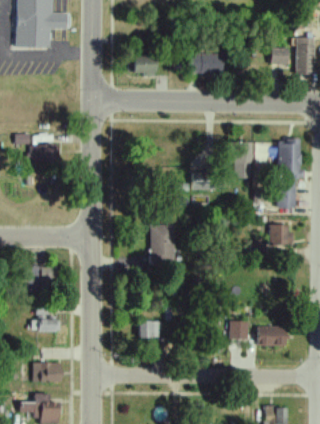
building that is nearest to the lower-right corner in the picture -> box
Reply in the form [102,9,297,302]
[264,405,288,424]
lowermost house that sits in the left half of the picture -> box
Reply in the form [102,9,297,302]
[20,393,62,424]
